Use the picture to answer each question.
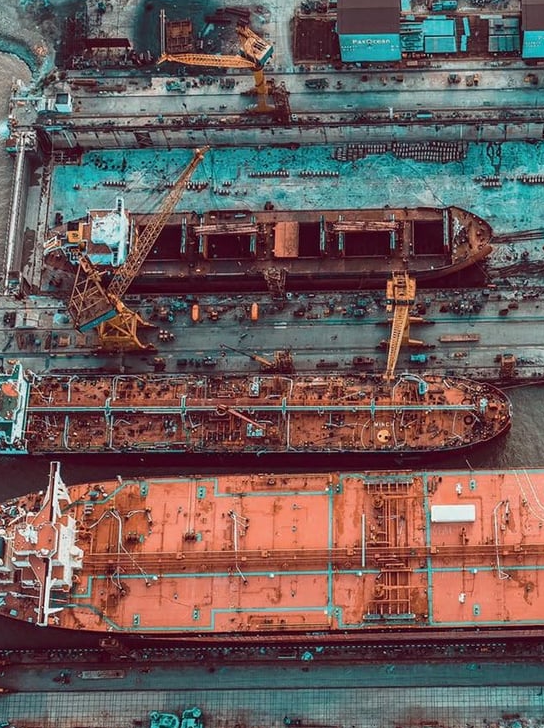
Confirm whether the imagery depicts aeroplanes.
No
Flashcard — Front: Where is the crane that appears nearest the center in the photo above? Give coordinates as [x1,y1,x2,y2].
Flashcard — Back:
[225,339,295,371]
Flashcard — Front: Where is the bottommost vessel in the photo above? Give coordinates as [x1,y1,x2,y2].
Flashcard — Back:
[0,460,544,648]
